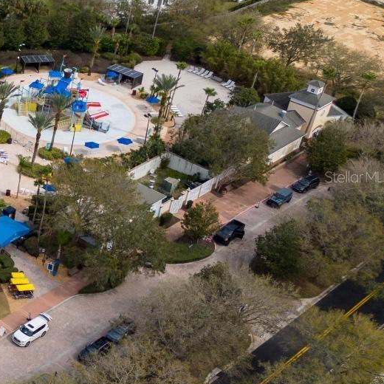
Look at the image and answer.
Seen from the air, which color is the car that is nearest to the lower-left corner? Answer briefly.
white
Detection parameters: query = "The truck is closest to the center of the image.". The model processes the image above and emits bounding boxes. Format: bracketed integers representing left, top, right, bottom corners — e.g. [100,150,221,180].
[214,214,251,243]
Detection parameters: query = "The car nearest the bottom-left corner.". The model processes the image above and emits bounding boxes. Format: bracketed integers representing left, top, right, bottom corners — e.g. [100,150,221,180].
[10,306,58,348]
